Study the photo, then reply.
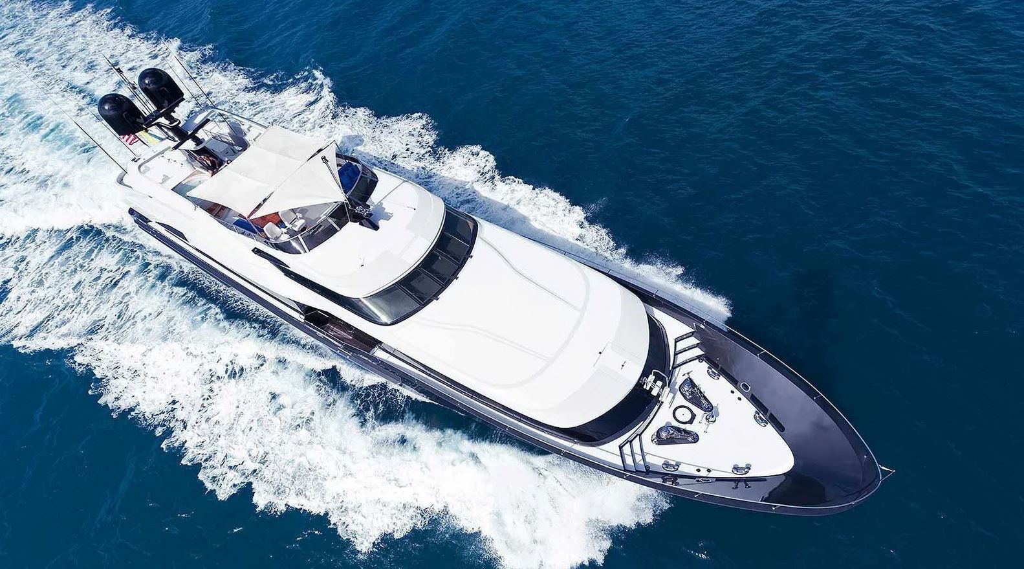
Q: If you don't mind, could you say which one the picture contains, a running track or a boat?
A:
boat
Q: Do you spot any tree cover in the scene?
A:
No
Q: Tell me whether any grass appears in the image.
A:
No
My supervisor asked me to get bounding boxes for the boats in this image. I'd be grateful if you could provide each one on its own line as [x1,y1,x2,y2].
[47,21,895,515]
